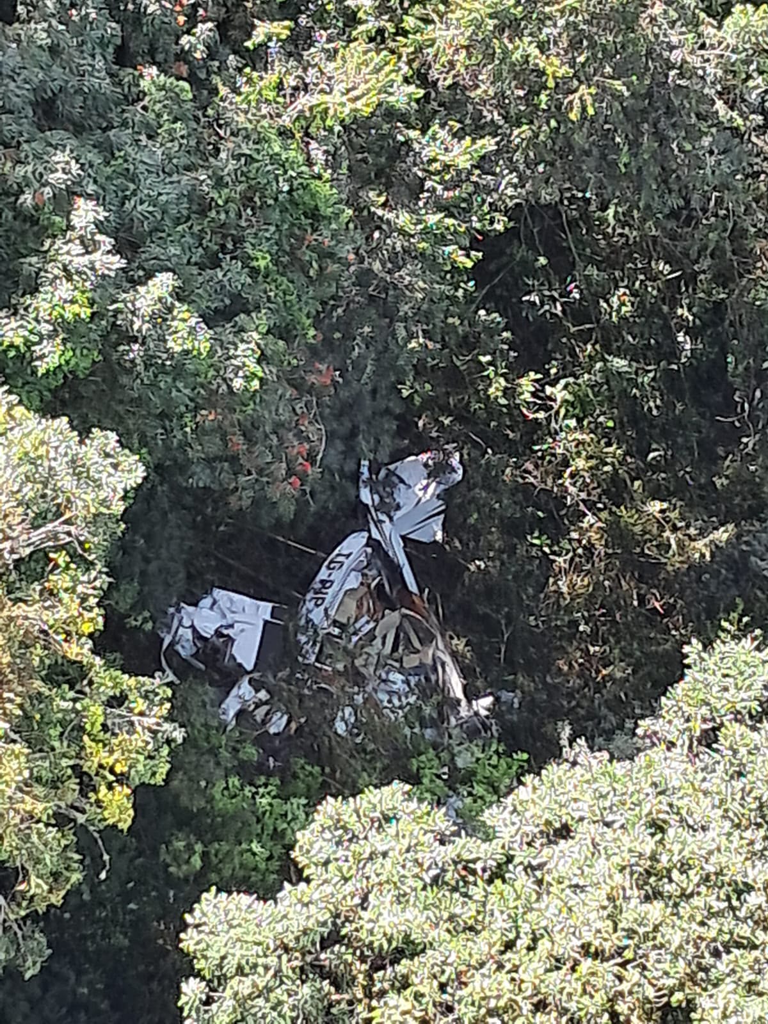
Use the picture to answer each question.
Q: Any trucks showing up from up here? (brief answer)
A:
No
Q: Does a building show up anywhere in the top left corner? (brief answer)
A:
No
